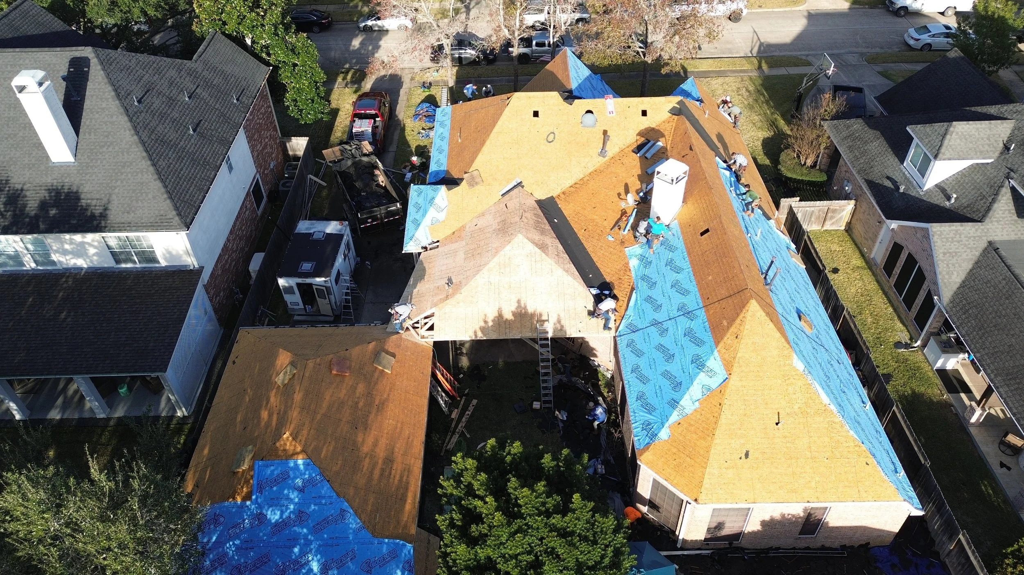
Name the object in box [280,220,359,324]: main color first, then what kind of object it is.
black trailer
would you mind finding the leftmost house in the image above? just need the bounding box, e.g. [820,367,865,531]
[0,0,281,422]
